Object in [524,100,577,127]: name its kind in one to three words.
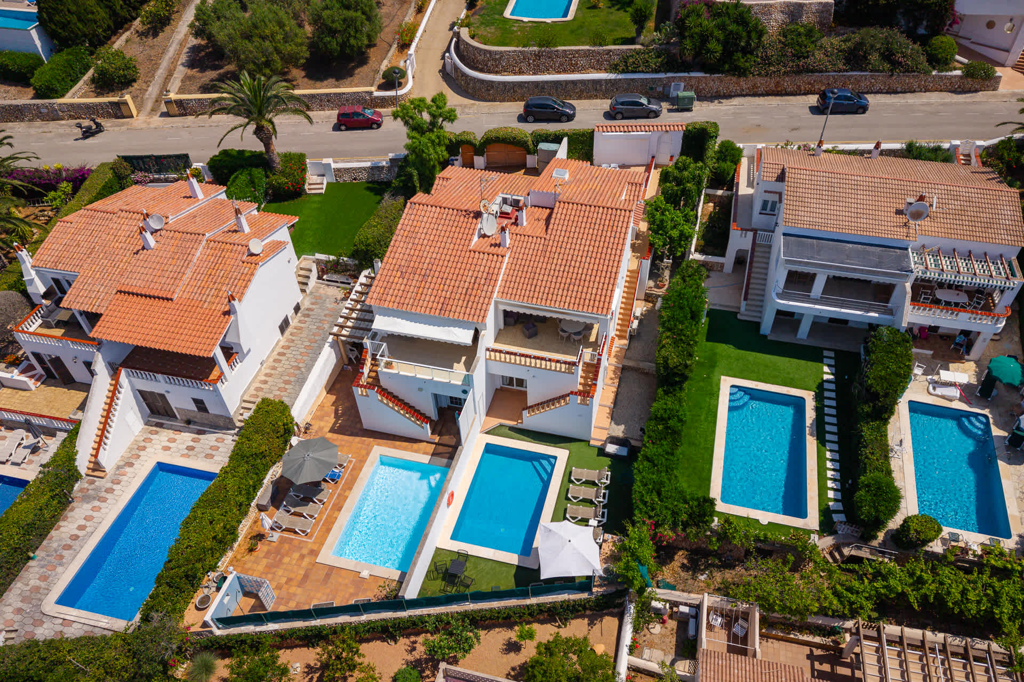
car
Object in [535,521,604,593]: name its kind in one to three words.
umbrella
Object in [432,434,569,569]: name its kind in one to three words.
swimming pool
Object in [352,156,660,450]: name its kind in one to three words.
house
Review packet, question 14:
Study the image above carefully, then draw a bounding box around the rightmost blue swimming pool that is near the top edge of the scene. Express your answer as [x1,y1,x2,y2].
[498,0,585,23]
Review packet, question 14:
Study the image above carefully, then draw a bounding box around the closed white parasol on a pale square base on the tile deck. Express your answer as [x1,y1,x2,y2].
[257,513,280,546]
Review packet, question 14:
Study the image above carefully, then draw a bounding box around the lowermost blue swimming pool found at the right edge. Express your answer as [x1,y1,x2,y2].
[895,395,1024,552]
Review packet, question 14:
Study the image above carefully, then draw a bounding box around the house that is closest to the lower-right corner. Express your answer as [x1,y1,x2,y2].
[690,593,808,682]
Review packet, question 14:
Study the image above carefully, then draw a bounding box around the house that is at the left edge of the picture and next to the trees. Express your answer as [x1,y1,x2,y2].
[0,175,308,475]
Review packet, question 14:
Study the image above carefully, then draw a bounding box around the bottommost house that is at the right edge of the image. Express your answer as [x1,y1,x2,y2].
[722,135,1024,363]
